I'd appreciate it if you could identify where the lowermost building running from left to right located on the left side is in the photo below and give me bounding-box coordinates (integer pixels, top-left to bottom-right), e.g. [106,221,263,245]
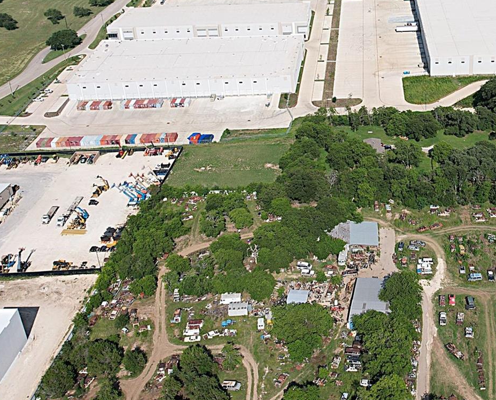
[67,34,298,99]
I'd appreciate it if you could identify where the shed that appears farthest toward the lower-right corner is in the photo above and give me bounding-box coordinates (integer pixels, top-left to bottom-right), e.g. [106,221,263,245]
[348,276,390,334]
